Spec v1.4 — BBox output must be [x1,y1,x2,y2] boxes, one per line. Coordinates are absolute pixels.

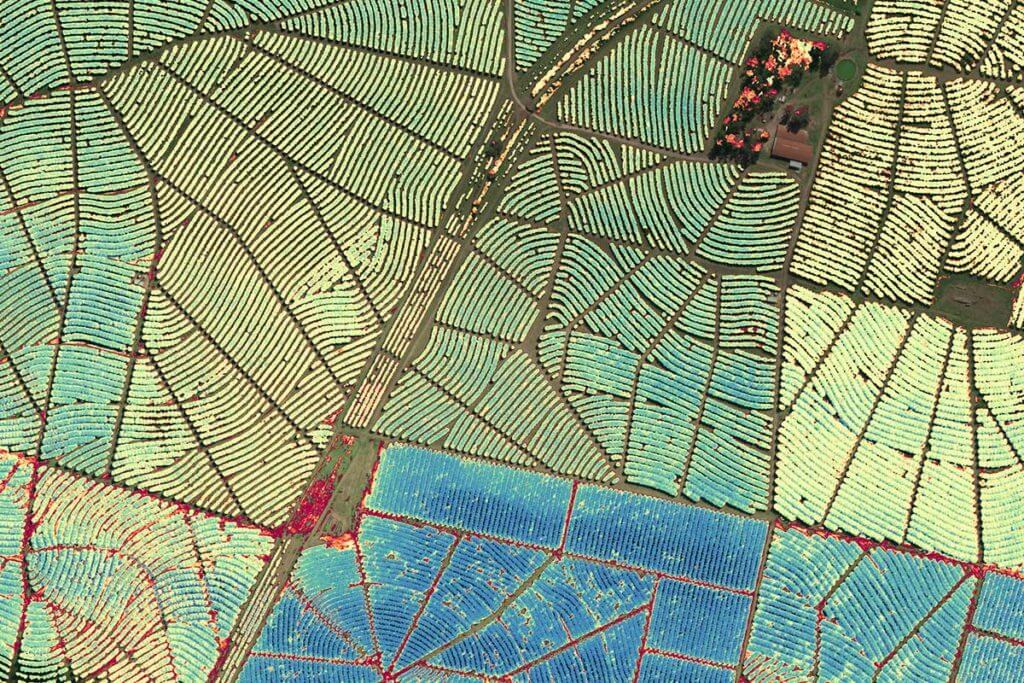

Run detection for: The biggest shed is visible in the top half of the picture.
[772,124,813,165]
